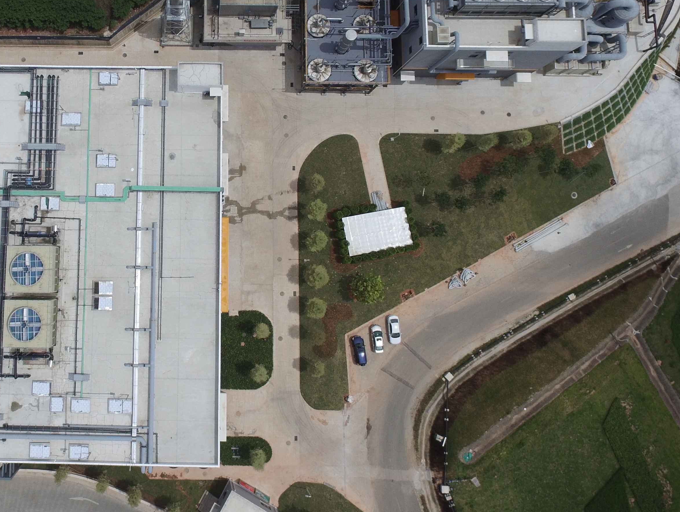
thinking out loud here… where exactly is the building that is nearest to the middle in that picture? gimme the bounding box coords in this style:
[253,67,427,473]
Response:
[339,208,413,256]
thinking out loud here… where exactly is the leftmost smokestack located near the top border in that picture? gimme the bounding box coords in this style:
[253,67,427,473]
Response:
[160,0,193,44]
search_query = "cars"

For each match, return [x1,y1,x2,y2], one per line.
[352,336,369,368]
[371,325,386,353]
[388,315,404,344]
